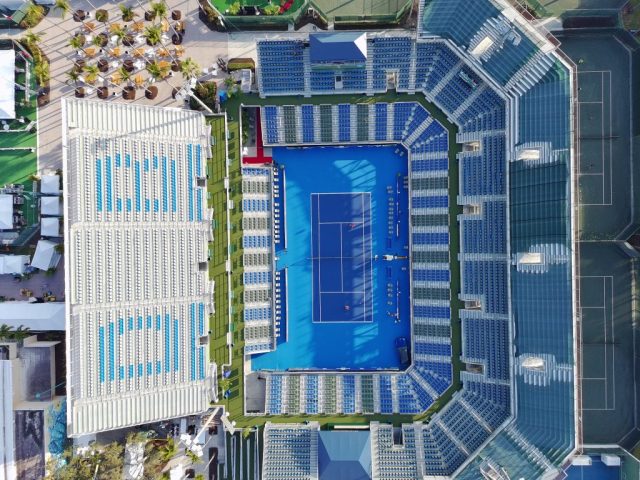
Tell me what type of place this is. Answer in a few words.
sports ground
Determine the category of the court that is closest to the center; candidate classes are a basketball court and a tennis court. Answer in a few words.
tennis court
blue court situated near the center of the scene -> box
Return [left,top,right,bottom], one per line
[252,146,410,371]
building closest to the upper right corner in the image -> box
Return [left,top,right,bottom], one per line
[309,31,366,72]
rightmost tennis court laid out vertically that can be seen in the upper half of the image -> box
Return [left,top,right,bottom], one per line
[566,36,631,240]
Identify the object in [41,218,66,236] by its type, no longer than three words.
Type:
tent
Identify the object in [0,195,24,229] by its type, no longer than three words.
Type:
tent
